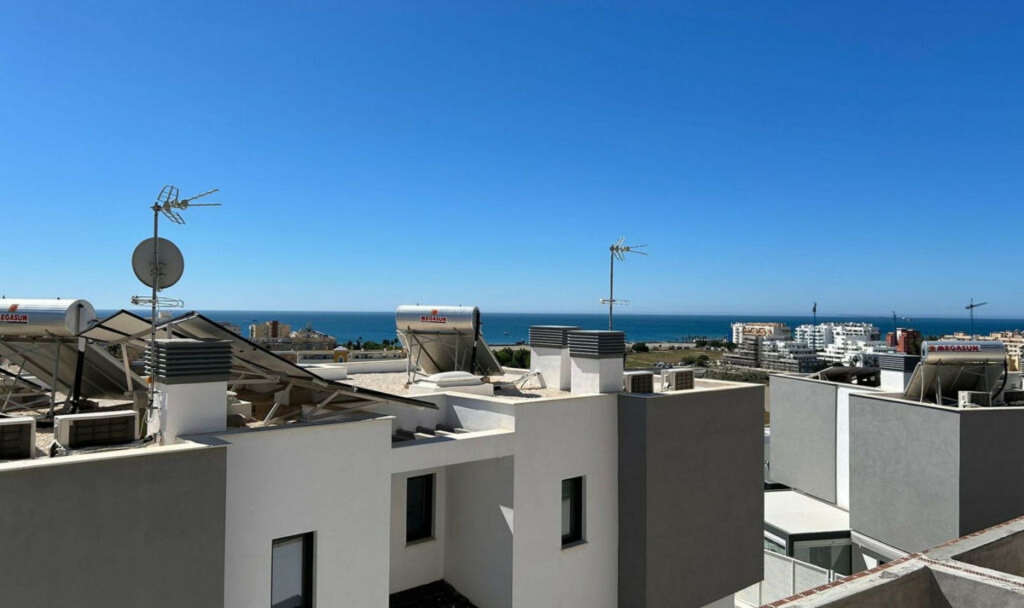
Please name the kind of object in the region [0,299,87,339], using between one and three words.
storage tank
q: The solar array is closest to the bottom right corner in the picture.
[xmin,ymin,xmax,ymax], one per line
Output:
[795,366,879,382]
